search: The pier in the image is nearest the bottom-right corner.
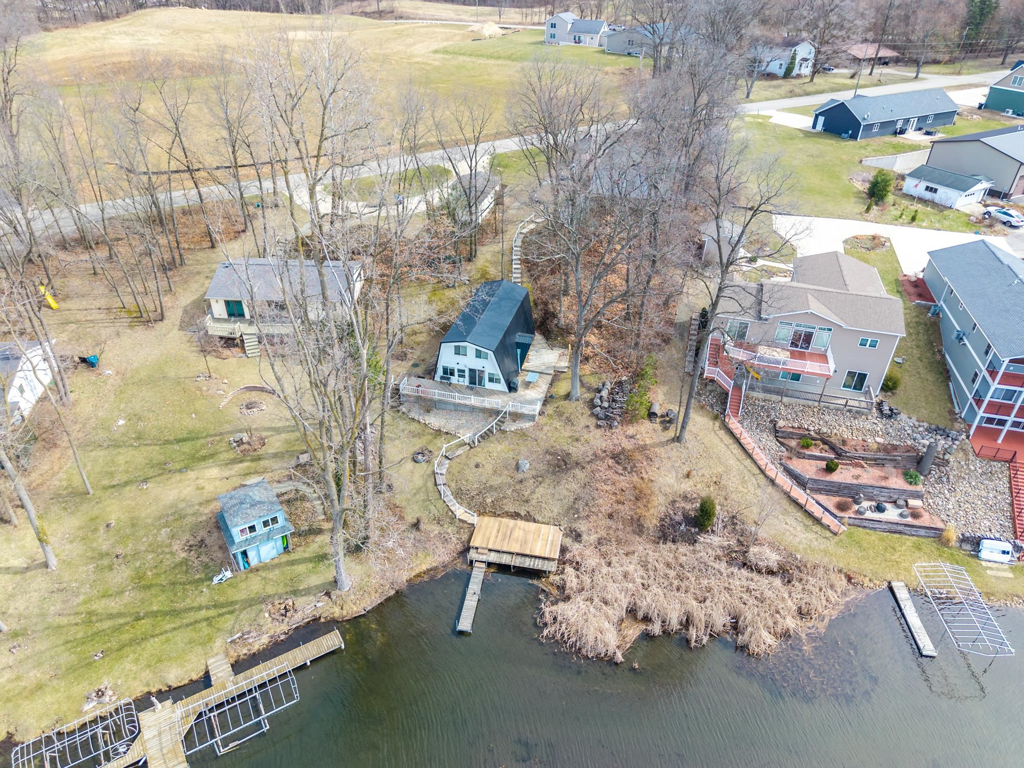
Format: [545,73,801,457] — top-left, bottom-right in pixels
[887,582,937,656]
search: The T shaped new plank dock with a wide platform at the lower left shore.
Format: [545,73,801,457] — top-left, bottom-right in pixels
[86,625,345,768]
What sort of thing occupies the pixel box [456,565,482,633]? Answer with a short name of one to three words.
pier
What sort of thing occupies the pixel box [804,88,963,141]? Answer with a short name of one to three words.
house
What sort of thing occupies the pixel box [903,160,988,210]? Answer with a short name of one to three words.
building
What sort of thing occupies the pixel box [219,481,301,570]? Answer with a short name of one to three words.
shed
